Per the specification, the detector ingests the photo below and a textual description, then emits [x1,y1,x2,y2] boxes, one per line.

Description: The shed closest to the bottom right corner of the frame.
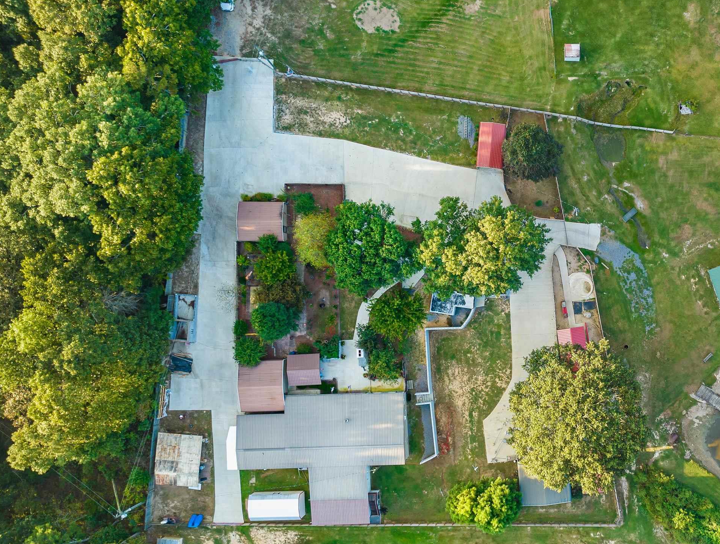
[517,460,571,507]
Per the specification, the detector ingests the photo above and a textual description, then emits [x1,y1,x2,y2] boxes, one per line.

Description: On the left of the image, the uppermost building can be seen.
[236,201,288,241]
